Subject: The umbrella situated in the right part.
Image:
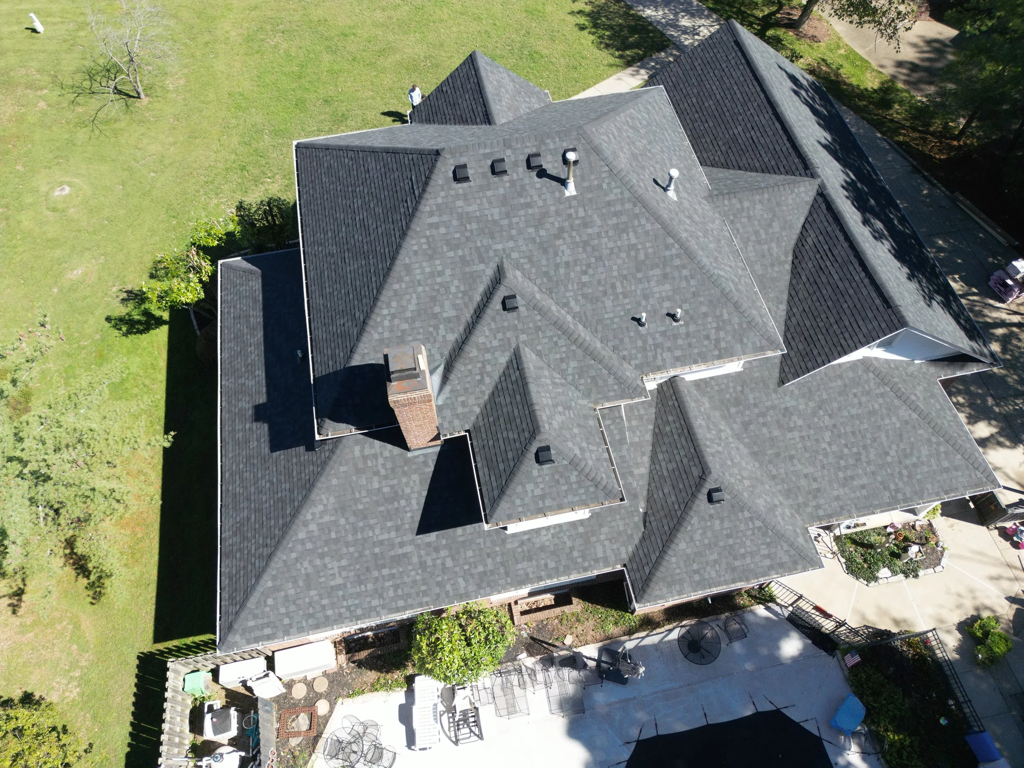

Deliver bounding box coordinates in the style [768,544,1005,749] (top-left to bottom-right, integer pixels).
[598,638,645,692]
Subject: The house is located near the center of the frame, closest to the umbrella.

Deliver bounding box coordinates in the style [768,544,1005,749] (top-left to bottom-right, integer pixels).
[217,17,1003,656]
